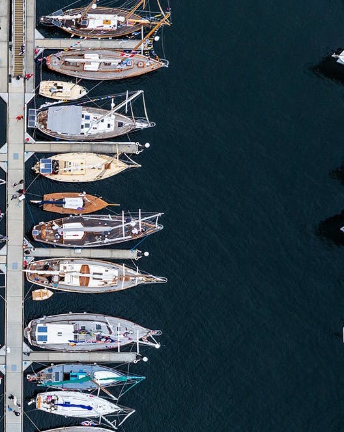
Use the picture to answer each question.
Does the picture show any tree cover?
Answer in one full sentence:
No, tree cover can't be seen anywhere here.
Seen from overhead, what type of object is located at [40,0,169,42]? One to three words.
boat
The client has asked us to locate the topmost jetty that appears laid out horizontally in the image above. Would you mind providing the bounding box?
[36,28,145,58]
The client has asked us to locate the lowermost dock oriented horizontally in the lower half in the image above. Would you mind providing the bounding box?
[23,343,136,372]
